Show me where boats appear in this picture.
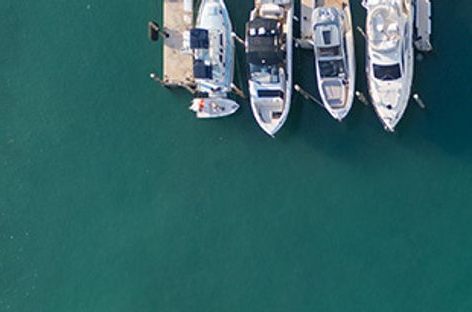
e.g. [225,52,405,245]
[245,0,298,138]
[191,98,241,118]
[190,0,237,98]
[314,0,360,121]
[365,0,415,131]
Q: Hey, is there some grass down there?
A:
No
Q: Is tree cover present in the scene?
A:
No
